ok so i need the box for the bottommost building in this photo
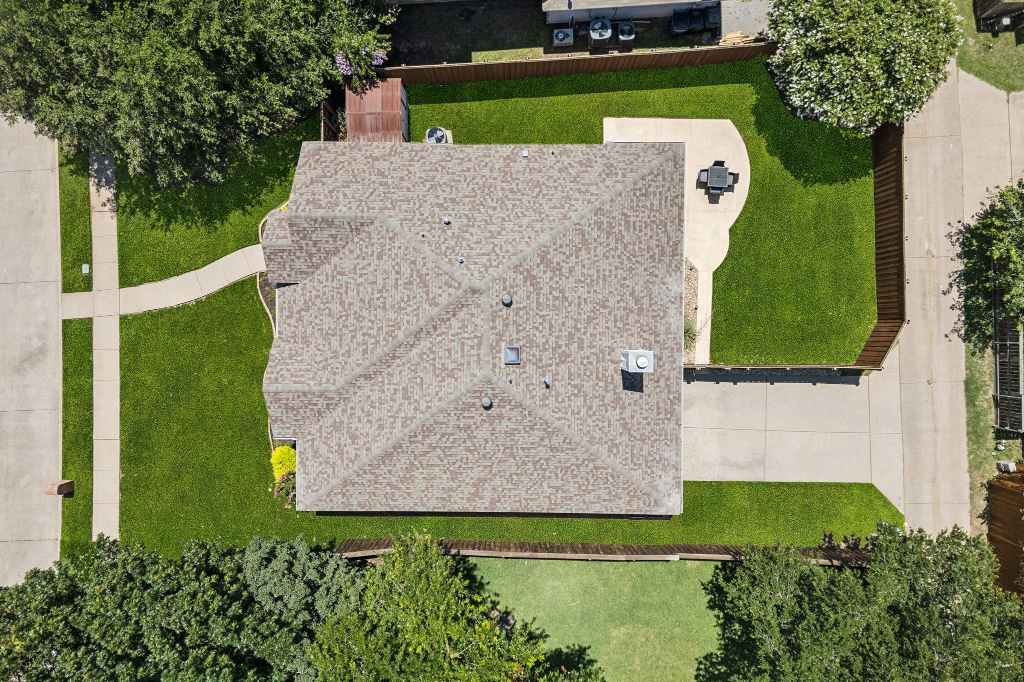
[262,139,687,516]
